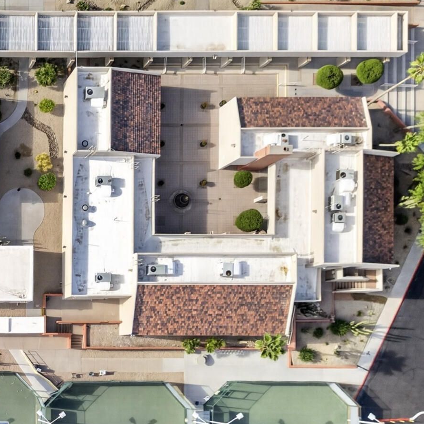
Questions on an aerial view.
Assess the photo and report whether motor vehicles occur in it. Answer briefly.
No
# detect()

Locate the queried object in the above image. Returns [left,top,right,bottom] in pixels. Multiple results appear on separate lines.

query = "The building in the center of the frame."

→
[60,67,402,337]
